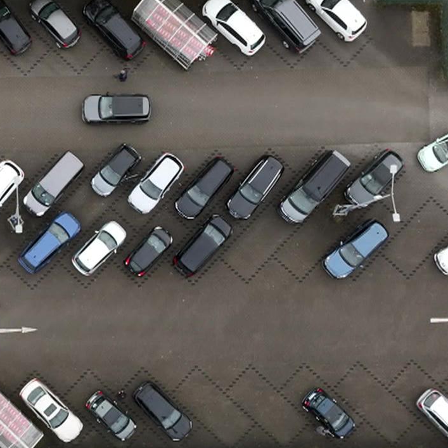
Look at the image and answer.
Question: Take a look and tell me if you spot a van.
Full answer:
Yes, the picture does show a van.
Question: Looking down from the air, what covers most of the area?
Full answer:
The bulk of the photo consists of paved ground.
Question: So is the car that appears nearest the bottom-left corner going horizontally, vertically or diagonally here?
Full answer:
In this picture, the car that appears nearest the bottom-left corner lies diagonally.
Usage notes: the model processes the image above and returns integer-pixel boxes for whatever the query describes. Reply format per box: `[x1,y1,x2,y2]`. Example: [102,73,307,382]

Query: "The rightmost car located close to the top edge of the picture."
[309,0,368,45]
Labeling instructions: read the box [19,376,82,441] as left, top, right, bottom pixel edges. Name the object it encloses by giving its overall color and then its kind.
white car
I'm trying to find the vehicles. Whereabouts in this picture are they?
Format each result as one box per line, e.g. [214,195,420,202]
[93,144,140,196]
[415,386,448,442]
[255,0,322,53]
[177,156,236,219]
[206,0,265,58]
[126,228,171,277]
[19,376,82,441]
[133,379,191,440]
[26,150,84,216]
[282,149,356,222]
[31,0,82,51]
[326,219,389,277]
[19,213,77,275]
[309,0,368,45]
[0,159,25,208]
[418,130,448,173]
[86,389,135,441]
[83,90,151,125]
[346,147,405,206]
[229,154,286,217]
[173,215,232,277]
[302,386,353,437]
[71,222,124,277]
[131,151,187,213]
[86,0,145,64]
